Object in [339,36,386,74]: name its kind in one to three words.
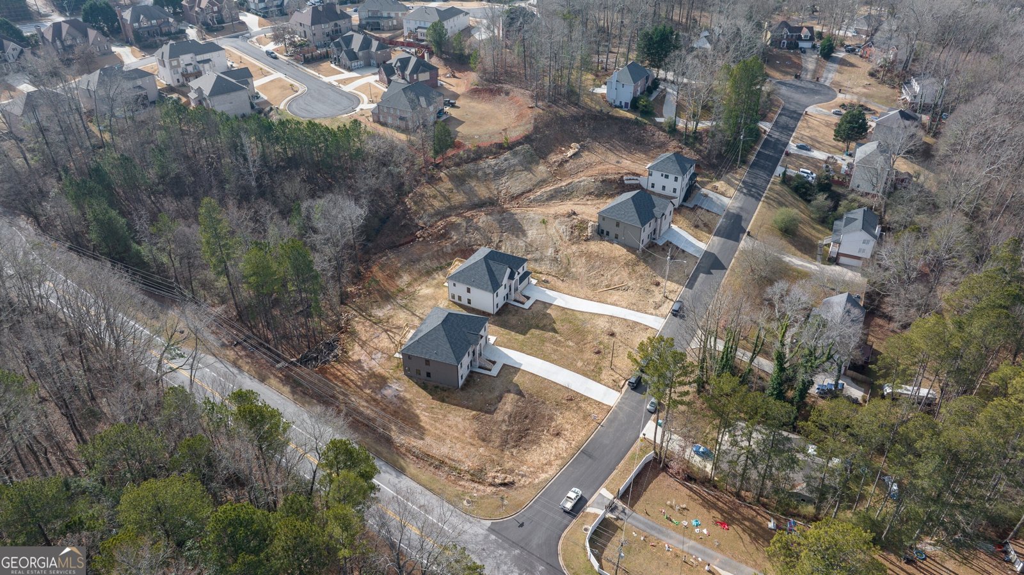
house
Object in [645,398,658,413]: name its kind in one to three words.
vehicle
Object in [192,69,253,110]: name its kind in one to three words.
house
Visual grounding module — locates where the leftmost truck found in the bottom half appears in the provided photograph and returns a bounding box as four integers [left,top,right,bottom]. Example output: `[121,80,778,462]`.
[558,488,580,511]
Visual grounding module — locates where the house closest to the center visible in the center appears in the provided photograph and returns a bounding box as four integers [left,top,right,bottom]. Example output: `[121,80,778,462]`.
[445,246,538,315]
